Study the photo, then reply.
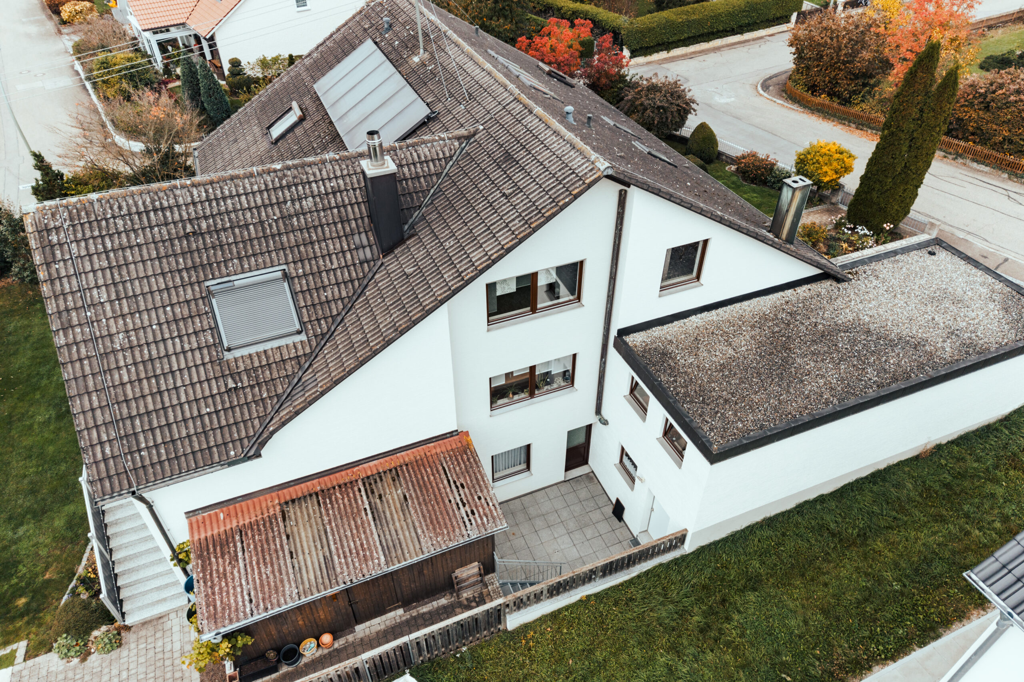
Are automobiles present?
No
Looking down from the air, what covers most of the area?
buildings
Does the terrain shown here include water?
No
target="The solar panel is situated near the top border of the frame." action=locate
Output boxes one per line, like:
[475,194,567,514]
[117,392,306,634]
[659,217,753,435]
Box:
[309,34,435,146]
